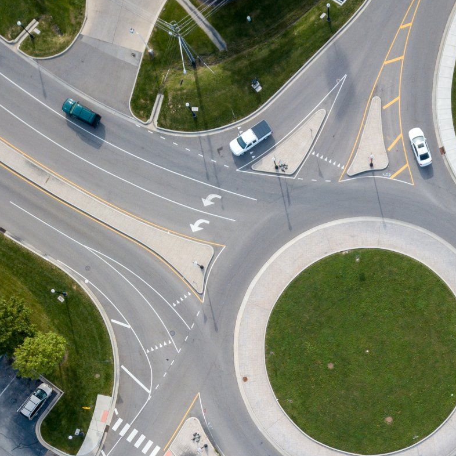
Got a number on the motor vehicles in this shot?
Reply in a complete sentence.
The count of motor vehicles comes to 4.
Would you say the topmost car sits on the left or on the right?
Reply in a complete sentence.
You can find the topmost car on the left side of the picture.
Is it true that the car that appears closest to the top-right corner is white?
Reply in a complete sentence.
Yes, the car that appears closest to the top-right corner is indeed white.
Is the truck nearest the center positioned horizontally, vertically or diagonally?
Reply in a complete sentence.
The truck nearest the center has been laid out diagonally relative to the frame.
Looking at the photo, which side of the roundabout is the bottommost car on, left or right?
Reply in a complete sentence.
Relative to the roundabout, the bottommost car is on the left.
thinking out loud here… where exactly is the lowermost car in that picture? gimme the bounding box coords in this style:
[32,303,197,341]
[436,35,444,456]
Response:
[20,383,53,420]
